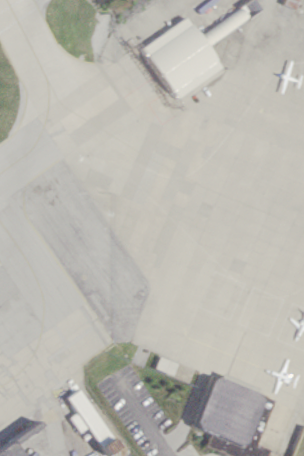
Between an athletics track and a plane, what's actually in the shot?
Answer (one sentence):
Visible in the photo is a plane.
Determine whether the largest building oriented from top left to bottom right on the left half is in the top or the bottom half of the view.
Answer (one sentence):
It is in the bottom half that the largest building oriented from top left to bottom right on the left half appears.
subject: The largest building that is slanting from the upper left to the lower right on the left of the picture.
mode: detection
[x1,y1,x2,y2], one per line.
[66,390,116,442]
